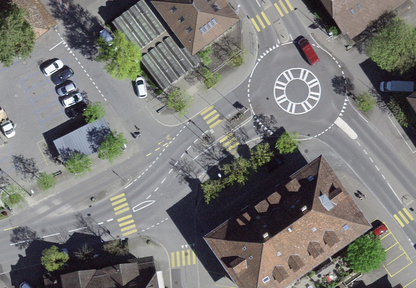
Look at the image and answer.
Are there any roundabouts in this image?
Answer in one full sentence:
Yes, you can see a roundabout in this photo.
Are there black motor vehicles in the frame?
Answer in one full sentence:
Yes, there is a black motor vehicle in the image.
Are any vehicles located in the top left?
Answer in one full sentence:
Yes, looking in the top left, one can make out a vehicle.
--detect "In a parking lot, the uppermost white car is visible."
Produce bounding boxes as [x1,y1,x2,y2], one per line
[42,60,64,77]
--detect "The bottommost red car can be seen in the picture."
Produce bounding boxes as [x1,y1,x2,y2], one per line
[370,224,390,239]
